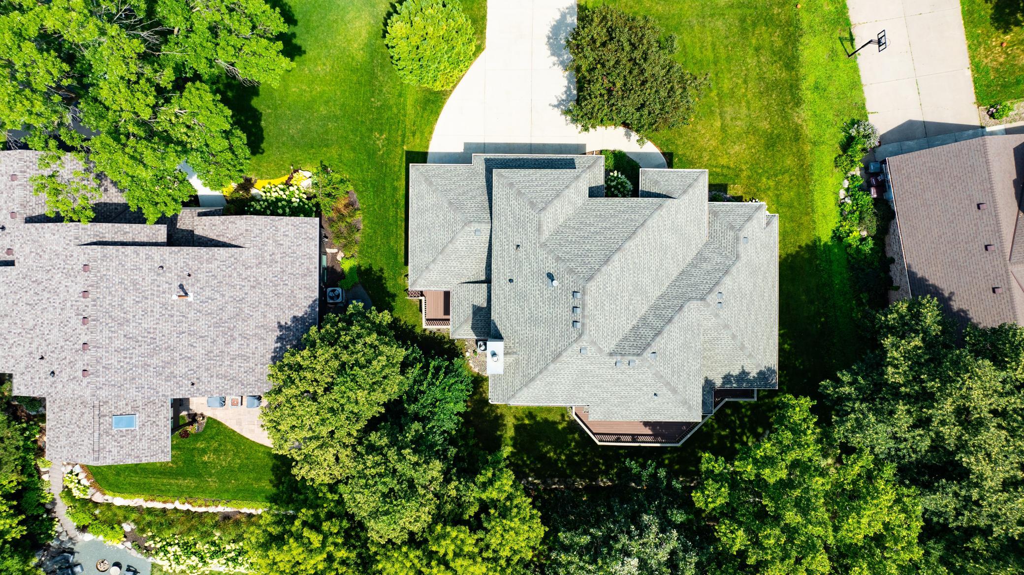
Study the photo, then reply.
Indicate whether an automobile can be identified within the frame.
No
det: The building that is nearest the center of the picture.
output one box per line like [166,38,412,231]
[408,154,780,423]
